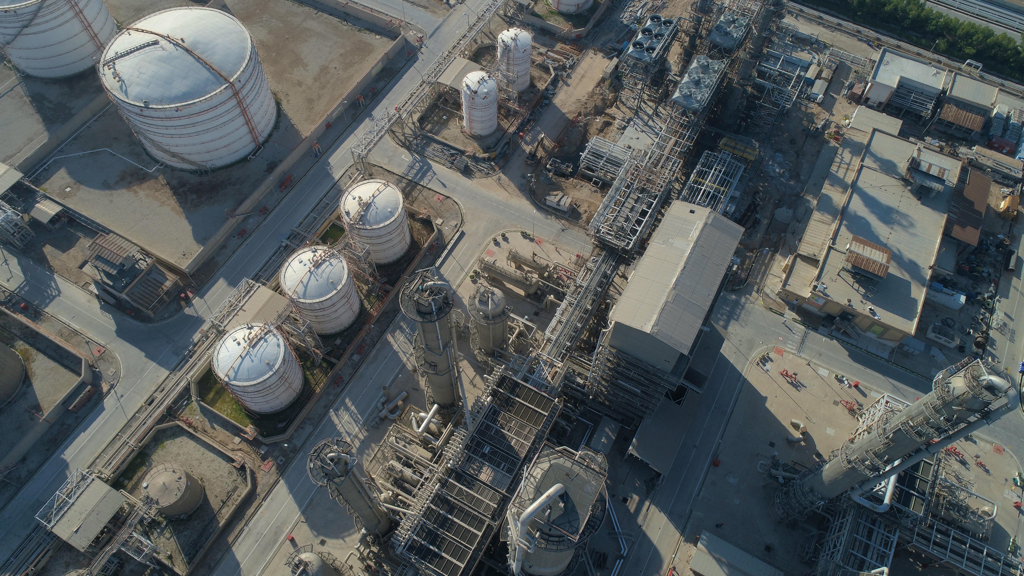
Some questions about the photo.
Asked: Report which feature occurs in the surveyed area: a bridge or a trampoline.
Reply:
bridge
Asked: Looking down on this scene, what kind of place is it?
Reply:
industrial area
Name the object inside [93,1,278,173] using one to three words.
storage tank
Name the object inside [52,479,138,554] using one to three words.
shed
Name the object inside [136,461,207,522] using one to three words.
storage tank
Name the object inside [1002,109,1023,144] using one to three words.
building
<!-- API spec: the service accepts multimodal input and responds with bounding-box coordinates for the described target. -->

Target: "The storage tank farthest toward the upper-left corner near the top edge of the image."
[0,0,118,78]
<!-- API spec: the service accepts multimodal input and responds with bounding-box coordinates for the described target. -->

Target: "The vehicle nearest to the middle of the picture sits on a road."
[522,131,547,165]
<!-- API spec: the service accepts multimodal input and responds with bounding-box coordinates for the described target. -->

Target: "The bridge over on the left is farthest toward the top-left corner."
[350,107,406,177]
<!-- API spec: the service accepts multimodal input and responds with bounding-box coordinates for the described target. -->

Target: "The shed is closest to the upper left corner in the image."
[0,161,29,202]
